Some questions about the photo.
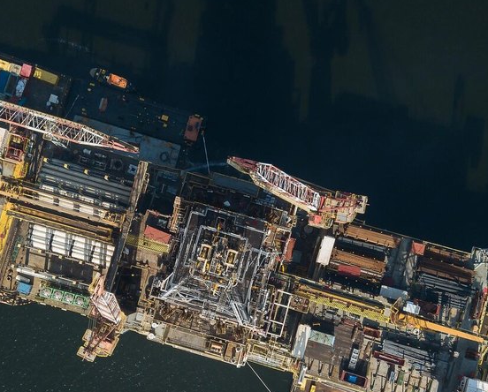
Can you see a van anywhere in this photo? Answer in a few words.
No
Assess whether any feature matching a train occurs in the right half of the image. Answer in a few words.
No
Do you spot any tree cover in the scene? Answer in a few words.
No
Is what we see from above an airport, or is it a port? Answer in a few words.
port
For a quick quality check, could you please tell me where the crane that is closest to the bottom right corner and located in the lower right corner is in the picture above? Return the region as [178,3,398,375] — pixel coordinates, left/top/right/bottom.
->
[388,309,488,346]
